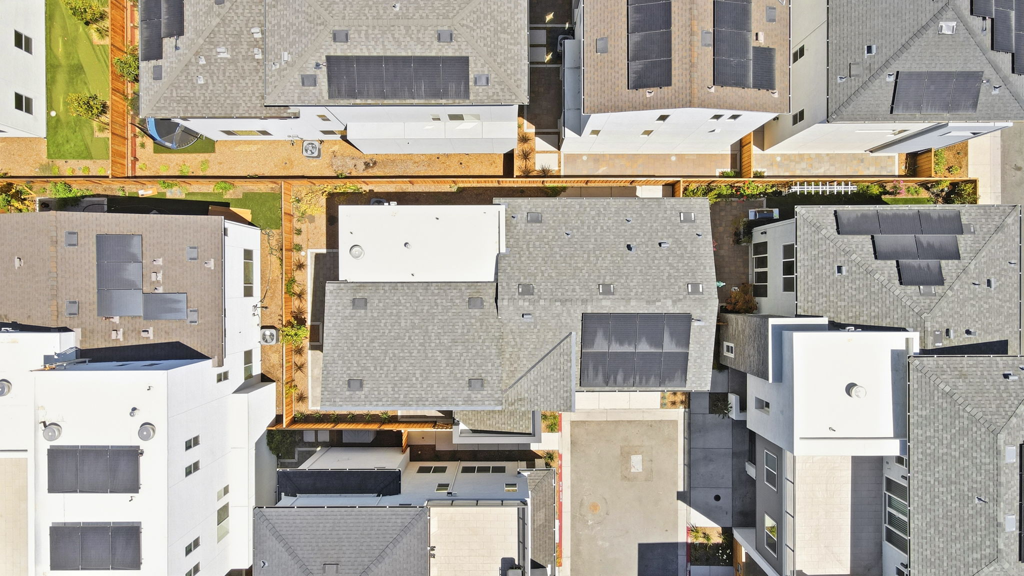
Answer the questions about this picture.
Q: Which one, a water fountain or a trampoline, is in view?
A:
trampoline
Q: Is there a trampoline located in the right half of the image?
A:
No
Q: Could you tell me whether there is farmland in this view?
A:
No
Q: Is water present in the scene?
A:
No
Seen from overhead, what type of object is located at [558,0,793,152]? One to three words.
house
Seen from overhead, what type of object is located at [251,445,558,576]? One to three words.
house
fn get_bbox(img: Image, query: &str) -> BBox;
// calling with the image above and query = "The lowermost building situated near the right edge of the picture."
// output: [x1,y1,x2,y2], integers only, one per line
[721,313,1024,576]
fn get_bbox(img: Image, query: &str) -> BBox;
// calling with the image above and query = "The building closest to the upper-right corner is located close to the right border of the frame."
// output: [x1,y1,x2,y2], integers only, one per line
[760,0,1024,155]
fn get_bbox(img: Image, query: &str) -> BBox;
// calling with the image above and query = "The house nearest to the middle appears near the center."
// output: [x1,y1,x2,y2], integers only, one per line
[320,196,718,443]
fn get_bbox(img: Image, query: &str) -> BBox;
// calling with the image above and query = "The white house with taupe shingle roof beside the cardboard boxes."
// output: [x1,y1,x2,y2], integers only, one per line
[0,210,267,367]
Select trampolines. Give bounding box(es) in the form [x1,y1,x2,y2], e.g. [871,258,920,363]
[133,121,209,156]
